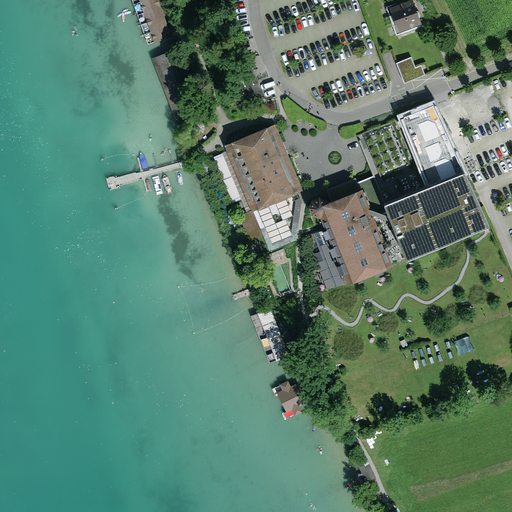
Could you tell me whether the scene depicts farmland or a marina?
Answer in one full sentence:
It's a marina.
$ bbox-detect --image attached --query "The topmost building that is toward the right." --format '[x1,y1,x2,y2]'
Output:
[388,0,423,38]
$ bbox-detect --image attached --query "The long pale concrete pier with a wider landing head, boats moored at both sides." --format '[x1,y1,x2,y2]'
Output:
[106,150,182,192]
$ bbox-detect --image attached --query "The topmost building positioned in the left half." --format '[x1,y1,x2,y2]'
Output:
[132,0,166,44]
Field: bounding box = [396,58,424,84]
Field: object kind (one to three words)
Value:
building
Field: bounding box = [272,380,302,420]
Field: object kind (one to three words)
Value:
house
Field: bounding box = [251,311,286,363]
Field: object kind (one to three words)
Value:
house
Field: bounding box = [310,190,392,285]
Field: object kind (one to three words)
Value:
building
